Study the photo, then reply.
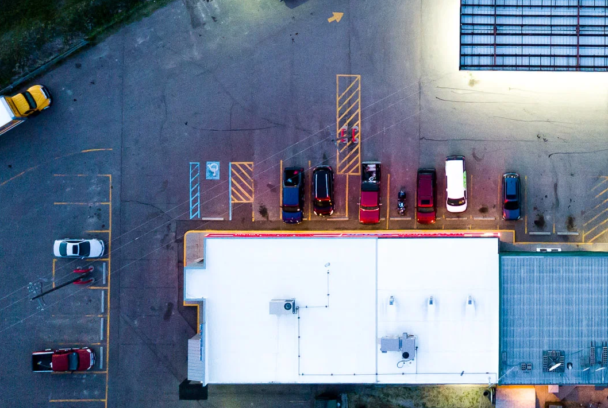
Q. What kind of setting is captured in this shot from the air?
parking lot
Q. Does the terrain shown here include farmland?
No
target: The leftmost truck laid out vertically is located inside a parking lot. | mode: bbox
[279,165,306,225]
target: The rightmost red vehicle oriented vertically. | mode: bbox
[414,169,439,223]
